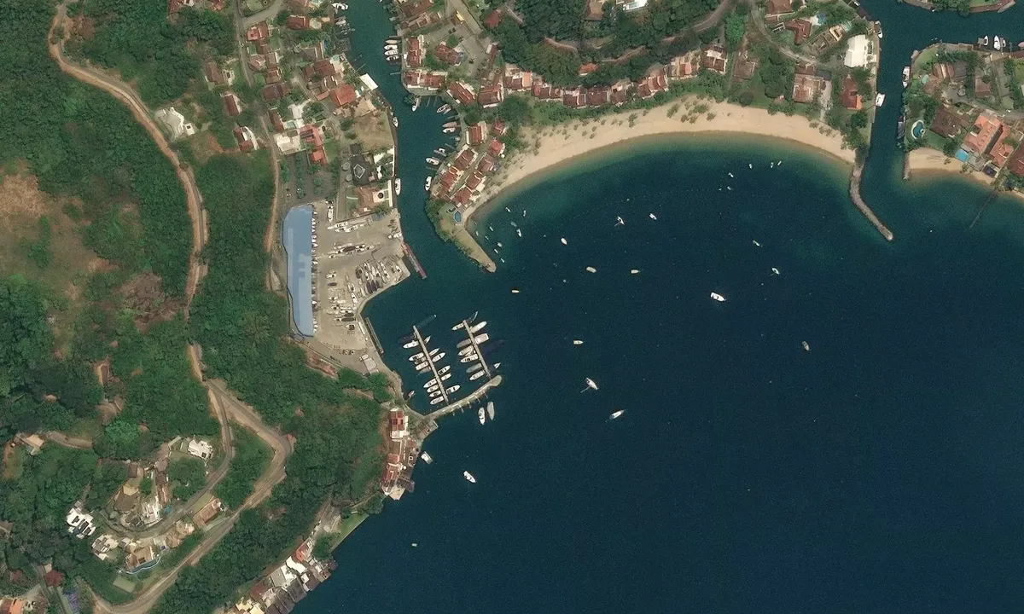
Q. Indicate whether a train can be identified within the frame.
No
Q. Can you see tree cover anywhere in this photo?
Yes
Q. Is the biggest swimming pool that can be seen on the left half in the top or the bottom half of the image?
bottom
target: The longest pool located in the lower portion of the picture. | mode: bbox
[127,555,162,576]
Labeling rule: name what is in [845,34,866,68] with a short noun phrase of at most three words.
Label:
building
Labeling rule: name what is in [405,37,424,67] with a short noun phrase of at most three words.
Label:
house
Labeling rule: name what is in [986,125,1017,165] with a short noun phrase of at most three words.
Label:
house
